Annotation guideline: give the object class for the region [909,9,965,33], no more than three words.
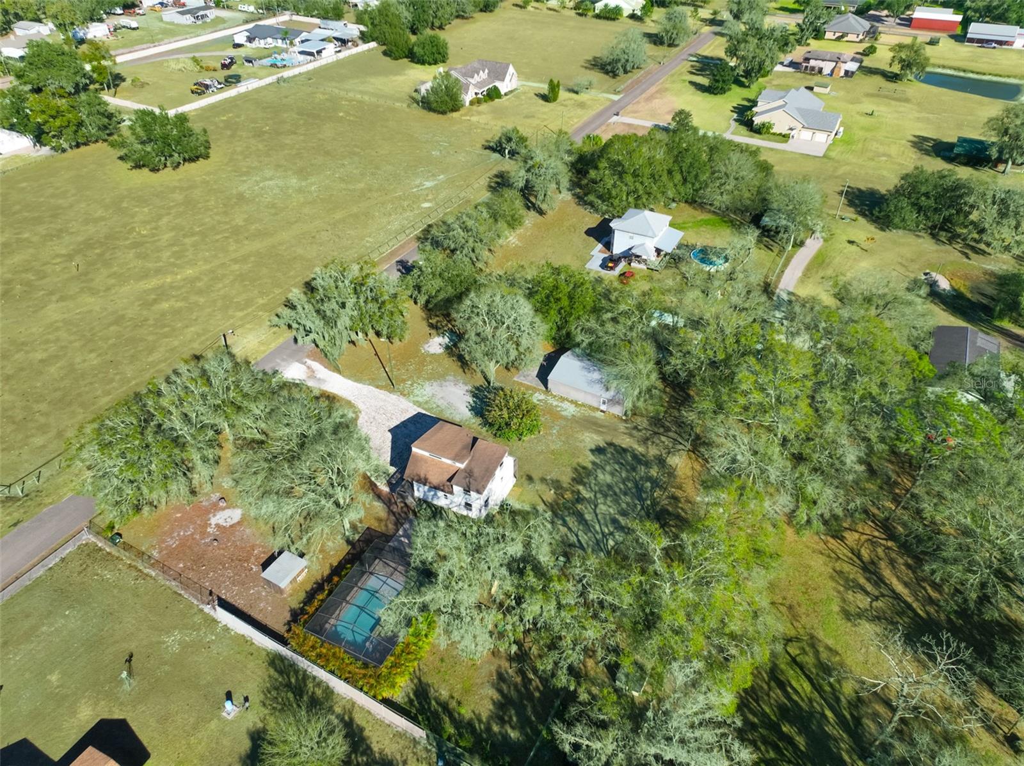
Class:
barn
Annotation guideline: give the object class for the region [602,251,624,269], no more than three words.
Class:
vehicle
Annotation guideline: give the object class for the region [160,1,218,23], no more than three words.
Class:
house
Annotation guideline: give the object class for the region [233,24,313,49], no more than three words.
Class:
house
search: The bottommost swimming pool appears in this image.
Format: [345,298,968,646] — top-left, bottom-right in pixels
[314,555,440,665]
